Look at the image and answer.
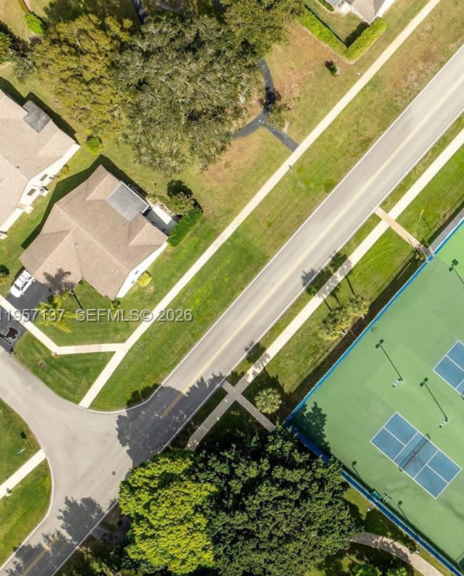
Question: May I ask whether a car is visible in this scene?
Yes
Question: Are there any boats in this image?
No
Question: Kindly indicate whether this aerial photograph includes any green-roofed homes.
No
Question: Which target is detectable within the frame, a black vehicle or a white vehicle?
white vehicle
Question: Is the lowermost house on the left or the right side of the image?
left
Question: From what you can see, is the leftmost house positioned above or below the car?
above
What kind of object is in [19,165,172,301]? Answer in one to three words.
house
